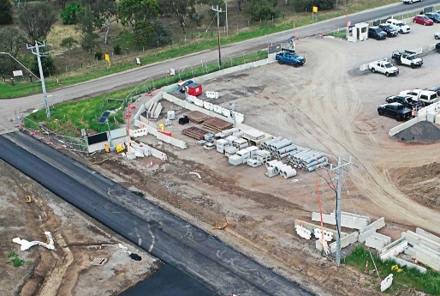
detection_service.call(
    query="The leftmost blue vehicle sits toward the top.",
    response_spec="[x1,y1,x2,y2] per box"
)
[275,49,307,68]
